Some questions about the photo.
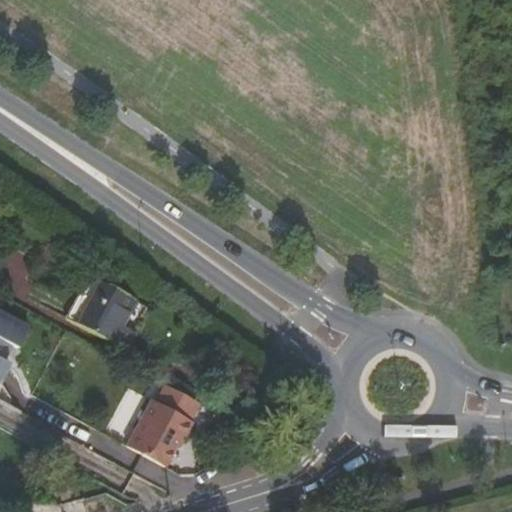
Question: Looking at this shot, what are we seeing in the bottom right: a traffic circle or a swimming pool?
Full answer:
You can see a traffic circle in the bottom right.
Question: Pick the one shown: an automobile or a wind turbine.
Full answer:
The image shows an automobile.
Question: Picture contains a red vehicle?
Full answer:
No, there's no red vehicle here.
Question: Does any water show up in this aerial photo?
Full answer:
No, there's no water in this view.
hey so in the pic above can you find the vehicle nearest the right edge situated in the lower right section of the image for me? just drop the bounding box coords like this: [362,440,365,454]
[479,379,501,392]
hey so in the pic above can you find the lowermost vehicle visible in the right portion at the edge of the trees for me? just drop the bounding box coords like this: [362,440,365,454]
[302,478,324,492]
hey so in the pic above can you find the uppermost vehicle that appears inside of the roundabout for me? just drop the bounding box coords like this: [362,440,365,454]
[393,332,415,347]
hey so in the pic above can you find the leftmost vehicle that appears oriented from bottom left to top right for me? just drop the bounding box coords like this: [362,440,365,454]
[196,468,216,484]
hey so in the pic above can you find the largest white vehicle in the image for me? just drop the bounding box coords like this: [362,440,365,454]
[384,424,459,440]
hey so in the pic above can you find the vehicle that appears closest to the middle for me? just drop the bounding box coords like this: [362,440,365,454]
[222,240,243,256]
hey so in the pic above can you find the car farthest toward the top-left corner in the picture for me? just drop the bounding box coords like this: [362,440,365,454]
[163,202,183,218]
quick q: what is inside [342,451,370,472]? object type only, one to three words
vehicle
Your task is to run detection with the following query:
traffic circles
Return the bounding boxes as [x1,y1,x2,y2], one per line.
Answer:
[322,308,484,462]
